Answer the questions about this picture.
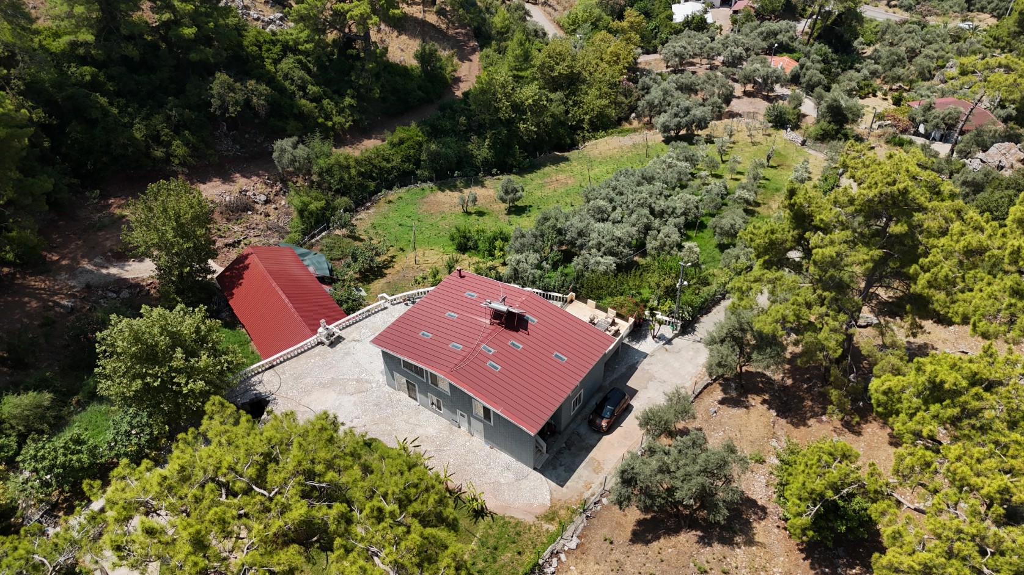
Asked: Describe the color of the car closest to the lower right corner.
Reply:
black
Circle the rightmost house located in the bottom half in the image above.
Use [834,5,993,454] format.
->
[370,265,633,469]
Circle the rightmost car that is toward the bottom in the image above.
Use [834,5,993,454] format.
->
[591,385,632,433]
